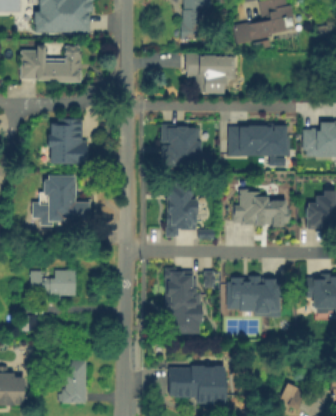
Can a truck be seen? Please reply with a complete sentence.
No, the frame has no truck in it.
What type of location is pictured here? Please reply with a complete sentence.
The area seen from above is a residential area.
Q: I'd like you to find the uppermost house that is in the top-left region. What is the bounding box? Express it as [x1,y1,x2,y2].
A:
[34,0,93,33]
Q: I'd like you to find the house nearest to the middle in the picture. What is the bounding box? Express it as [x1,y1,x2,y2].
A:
[166,187,198,238]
